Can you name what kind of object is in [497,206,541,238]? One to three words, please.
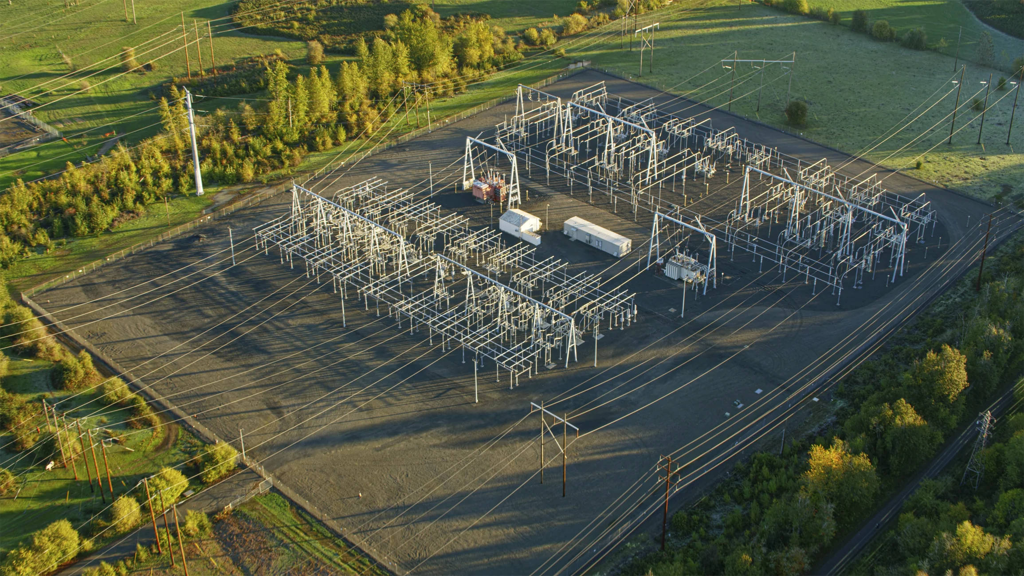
shed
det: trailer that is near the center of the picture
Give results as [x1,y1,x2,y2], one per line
[564,216,631,257]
